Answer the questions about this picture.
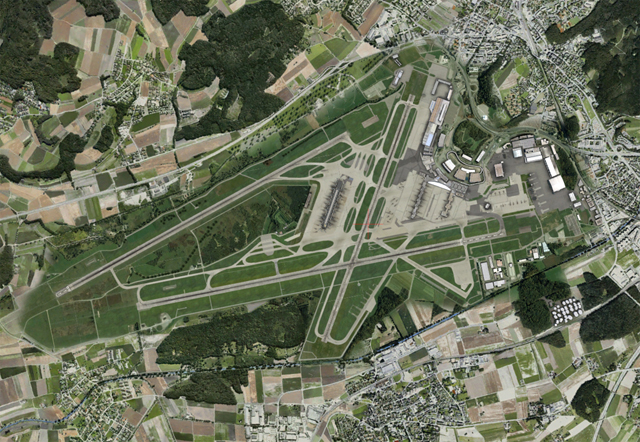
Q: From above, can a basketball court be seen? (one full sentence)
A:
No, no basketball court can be seen from above.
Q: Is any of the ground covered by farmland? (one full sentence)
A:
Yes, some farmland is visible.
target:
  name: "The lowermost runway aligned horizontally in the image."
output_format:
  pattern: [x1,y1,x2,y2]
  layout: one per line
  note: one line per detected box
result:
[138,230,506,307]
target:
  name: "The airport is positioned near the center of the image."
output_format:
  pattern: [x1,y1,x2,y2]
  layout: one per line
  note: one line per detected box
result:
[5,42,591,359]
